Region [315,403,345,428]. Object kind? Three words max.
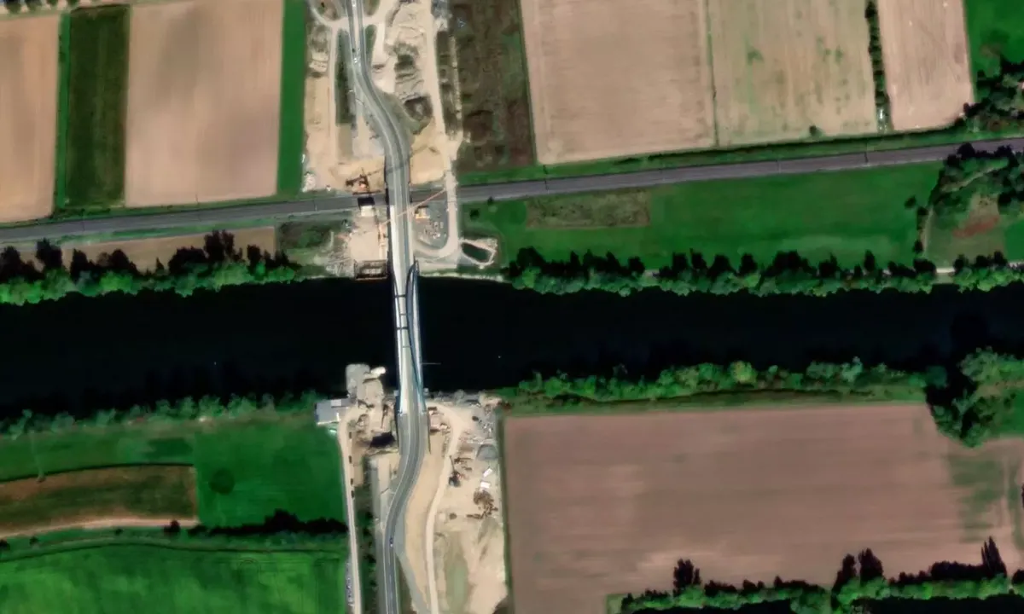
shed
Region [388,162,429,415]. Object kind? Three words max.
bridge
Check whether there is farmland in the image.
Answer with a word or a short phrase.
Yes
